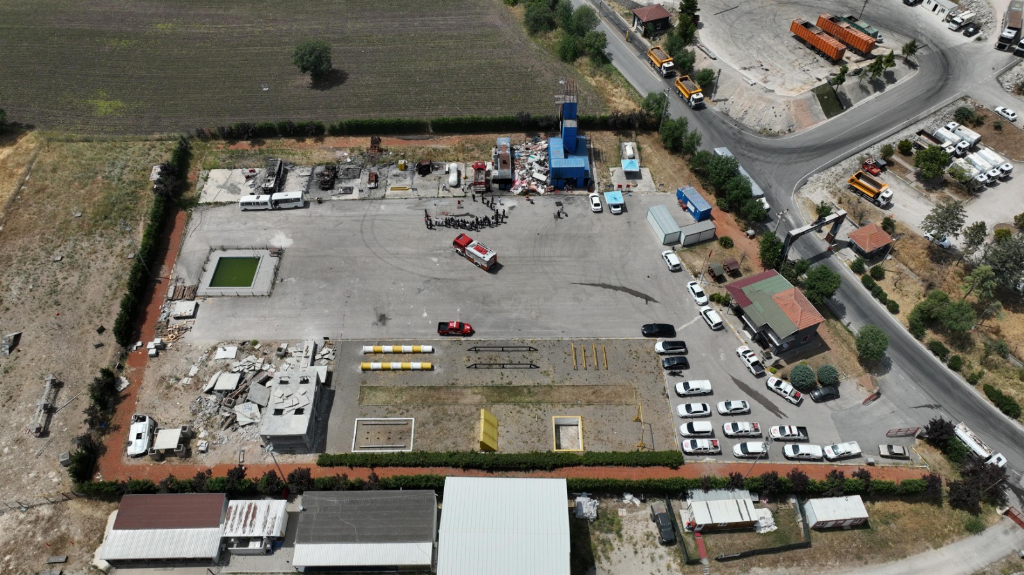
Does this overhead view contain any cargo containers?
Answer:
Yes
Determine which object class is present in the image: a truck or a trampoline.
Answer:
truck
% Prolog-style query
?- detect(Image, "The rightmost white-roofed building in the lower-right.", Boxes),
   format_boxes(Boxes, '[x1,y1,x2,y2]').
[805,496,868,531]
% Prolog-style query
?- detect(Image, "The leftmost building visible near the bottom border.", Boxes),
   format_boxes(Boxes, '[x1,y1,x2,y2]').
[101,493,231,565]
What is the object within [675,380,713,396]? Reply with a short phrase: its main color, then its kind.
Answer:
white vehicle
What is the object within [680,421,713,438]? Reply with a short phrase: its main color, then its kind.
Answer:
white car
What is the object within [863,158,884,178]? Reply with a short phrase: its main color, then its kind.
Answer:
red work vehicle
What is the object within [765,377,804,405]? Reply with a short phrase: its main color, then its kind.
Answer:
white truck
